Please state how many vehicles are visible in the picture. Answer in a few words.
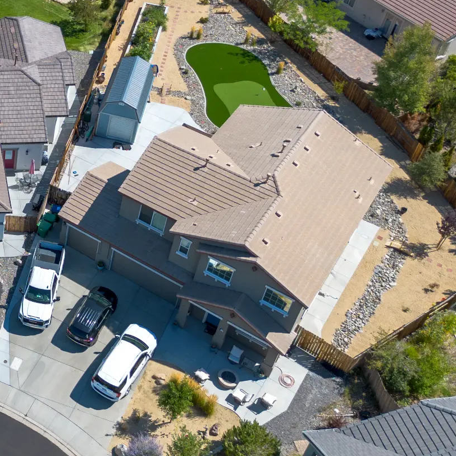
3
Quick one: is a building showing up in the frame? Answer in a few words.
Yes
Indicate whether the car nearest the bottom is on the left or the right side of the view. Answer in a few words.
left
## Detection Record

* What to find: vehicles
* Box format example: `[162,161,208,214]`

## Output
[91,327,152,404]
[19,244,64,327]
[65,286,115,350]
